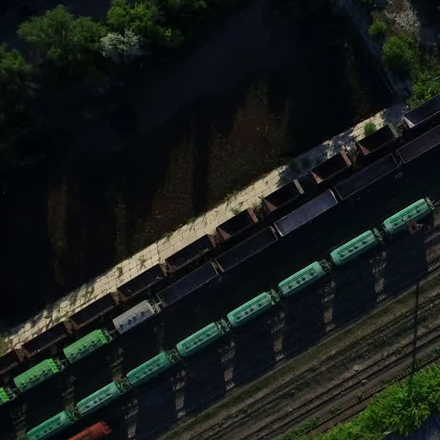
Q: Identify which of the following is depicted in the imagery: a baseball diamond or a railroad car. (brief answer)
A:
railroad car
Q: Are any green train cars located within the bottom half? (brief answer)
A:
Yes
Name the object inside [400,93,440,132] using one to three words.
rail car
